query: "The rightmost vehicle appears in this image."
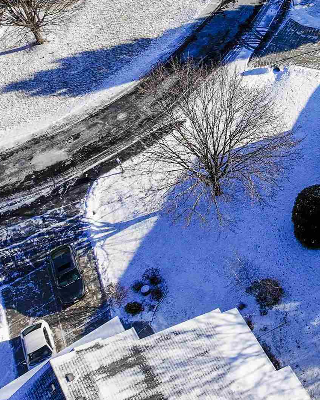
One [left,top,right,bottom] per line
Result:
[44,238,85,303]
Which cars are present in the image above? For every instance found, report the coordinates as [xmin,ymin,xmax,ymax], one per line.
[12,306,54,365]
[44,238,85,303]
